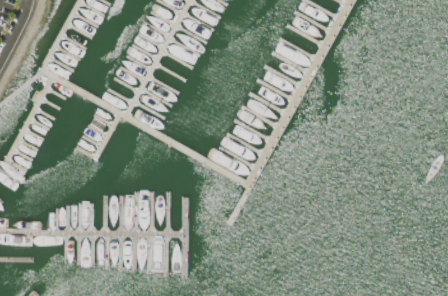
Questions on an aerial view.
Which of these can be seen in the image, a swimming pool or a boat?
boat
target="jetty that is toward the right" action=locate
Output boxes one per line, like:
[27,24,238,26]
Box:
[226,0,356,224]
